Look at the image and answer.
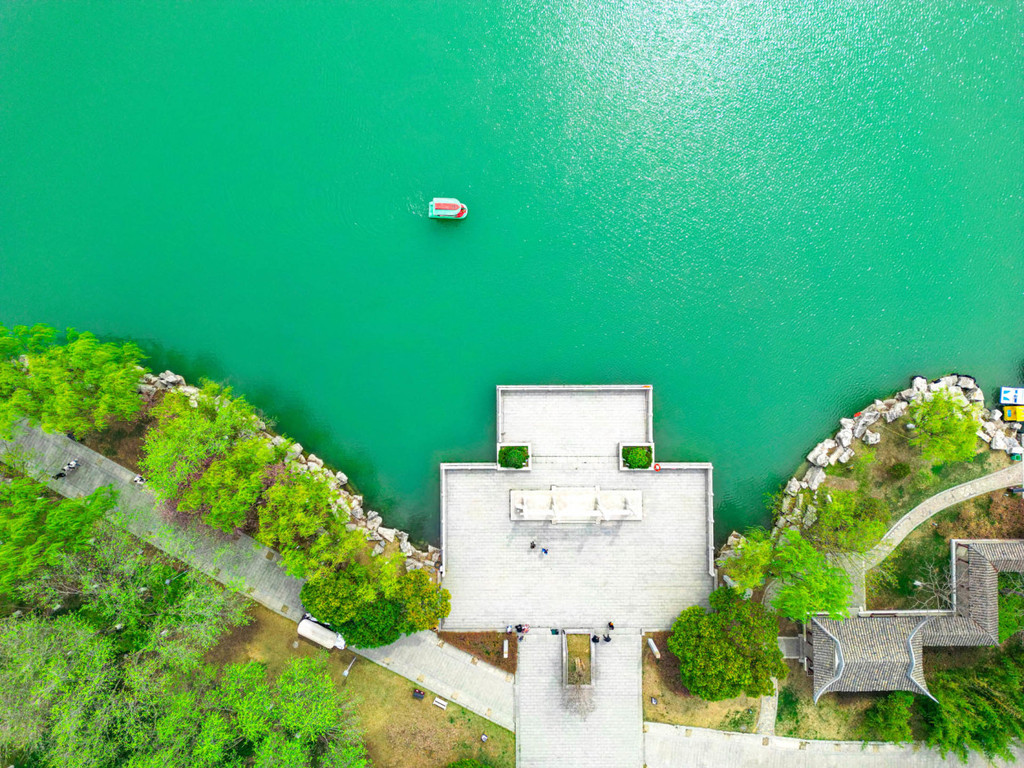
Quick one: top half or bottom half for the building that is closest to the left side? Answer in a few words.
bottom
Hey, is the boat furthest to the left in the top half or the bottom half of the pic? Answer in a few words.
top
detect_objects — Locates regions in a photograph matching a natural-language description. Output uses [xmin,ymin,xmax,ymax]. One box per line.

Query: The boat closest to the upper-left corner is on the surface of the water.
[428,198,468,218]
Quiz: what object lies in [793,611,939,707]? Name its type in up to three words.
building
